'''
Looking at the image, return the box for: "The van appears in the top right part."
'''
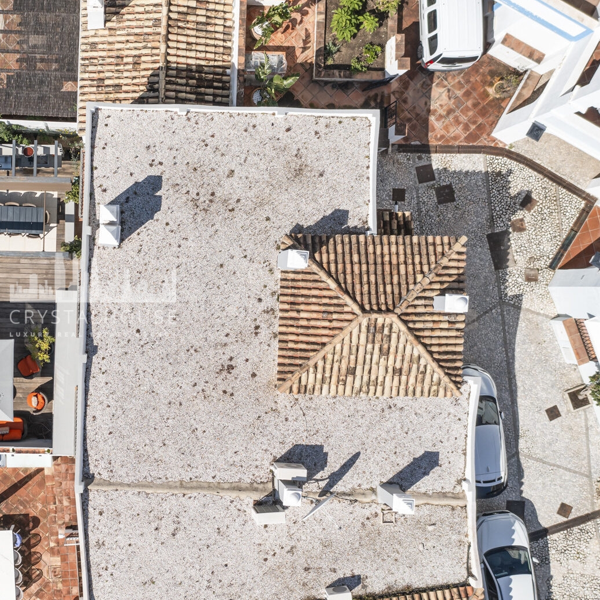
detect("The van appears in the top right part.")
[410,0,485,71]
